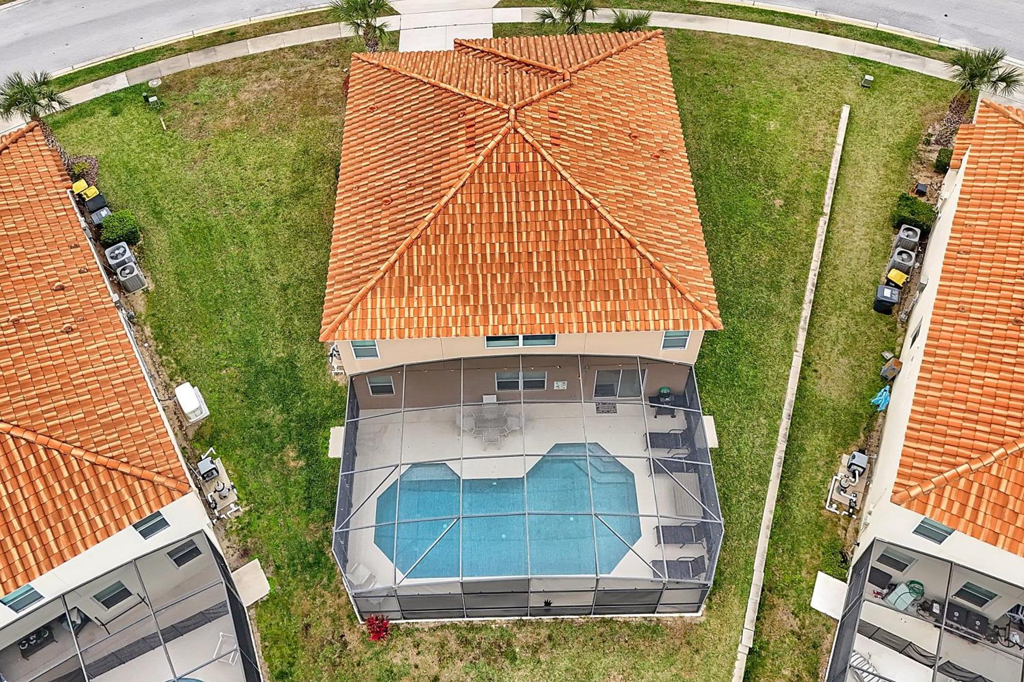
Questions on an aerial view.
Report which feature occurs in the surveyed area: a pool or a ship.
pool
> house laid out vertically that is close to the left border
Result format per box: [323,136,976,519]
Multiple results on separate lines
[0,121,221,669]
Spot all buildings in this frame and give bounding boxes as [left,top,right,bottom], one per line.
[316,28,723,407]
[0,121,221,669]
[855,95,1024,628]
